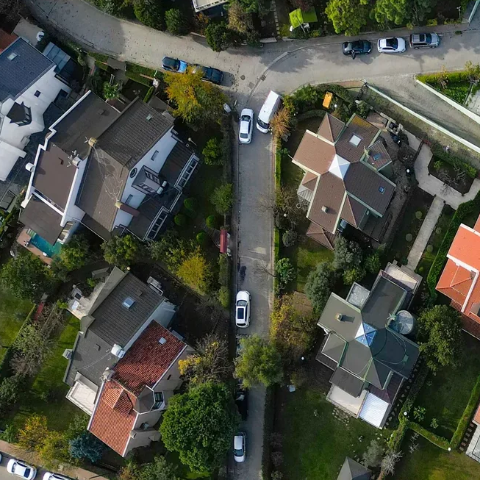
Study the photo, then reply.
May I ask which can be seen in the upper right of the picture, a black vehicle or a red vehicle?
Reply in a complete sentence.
Looking in the upper right of the picture, you will find a black vehicle.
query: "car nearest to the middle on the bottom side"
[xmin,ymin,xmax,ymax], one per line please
[233,293,251,326]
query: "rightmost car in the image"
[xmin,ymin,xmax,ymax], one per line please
[407,31,441,51]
